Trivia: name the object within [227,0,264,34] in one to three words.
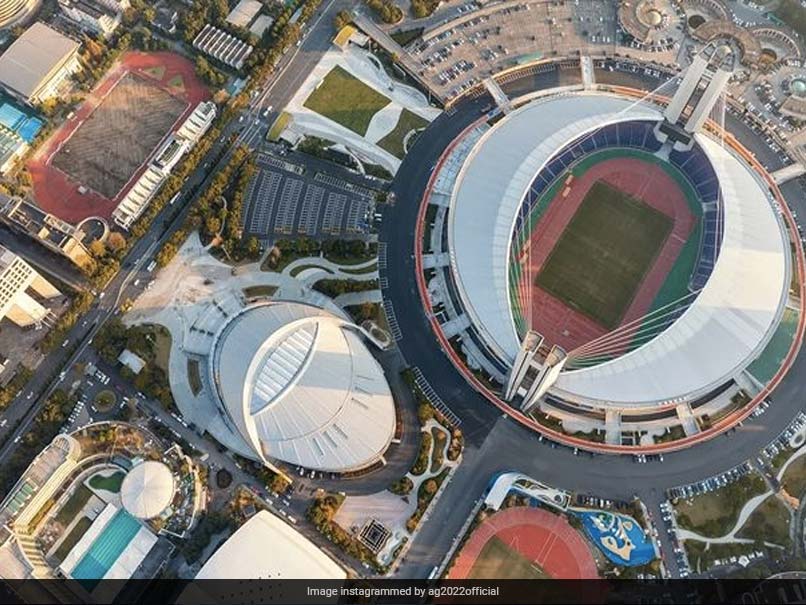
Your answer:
shed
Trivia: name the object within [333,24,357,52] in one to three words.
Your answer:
building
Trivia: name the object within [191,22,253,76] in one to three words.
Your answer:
building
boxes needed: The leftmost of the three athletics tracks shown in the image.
[28,50,211,223]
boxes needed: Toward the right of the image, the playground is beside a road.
[567,507,657,567]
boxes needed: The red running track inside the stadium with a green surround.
[510,154,698,365]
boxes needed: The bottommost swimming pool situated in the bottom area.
[62,503,157,599]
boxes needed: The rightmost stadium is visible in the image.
[411,42,806,451]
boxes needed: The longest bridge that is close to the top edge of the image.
[350,5,449,106]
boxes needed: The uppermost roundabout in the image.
[79,378,128,425]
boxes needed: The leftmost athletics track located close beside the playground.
[426,511,602,605]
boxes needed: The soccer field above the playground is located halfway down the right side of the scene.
[532,182,675,333]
